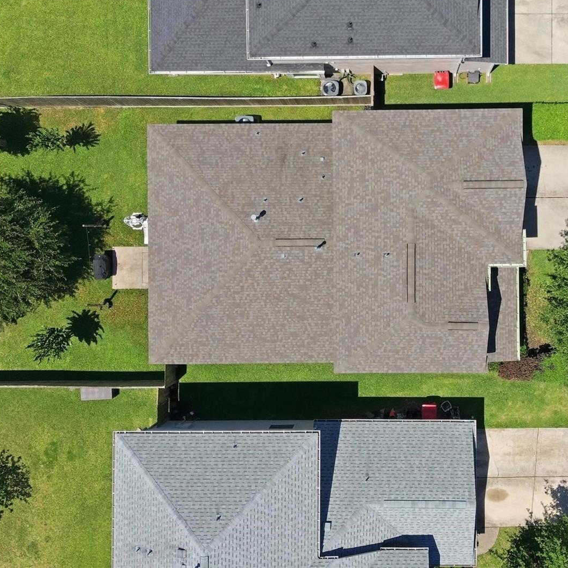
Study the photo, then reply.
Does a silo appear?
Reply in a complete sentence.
No, there is no silo in the image.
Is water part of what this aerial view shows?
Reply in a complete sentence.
No, there is no water in the image.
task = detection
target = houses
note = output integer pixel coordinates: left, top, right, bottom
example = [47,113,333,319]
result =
[146,0,509,85]
[111,415,480,568]
[148,110,527,373]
